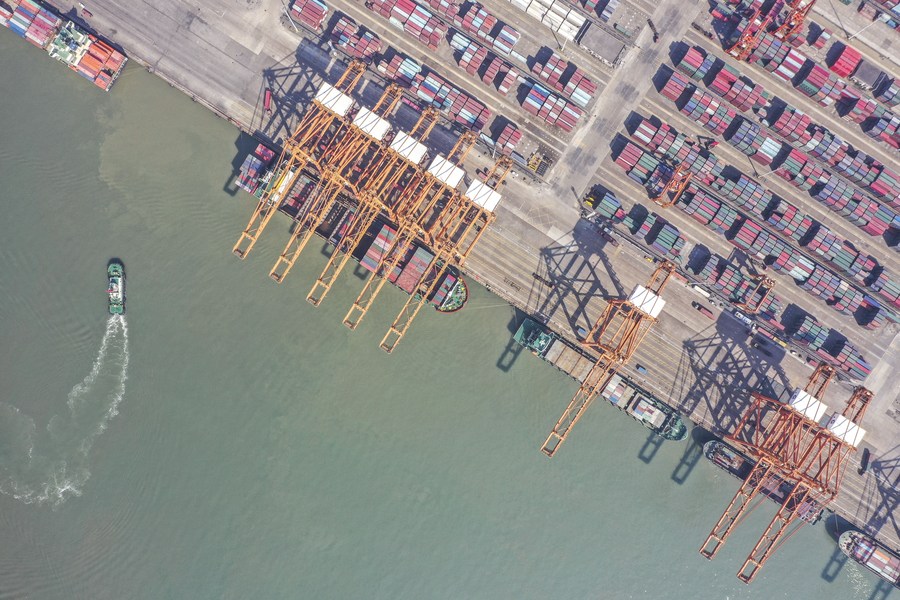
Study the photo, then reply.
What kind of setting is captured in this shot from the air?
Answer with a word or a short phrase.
port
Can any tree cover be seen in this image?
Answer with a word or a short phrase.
No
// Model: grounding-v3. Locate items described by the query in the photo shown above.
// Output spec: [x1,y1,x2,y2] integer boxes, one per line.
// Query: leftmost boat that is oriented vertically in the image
[102,259,126,314]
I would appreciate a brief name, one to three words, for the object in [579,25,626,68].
shed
